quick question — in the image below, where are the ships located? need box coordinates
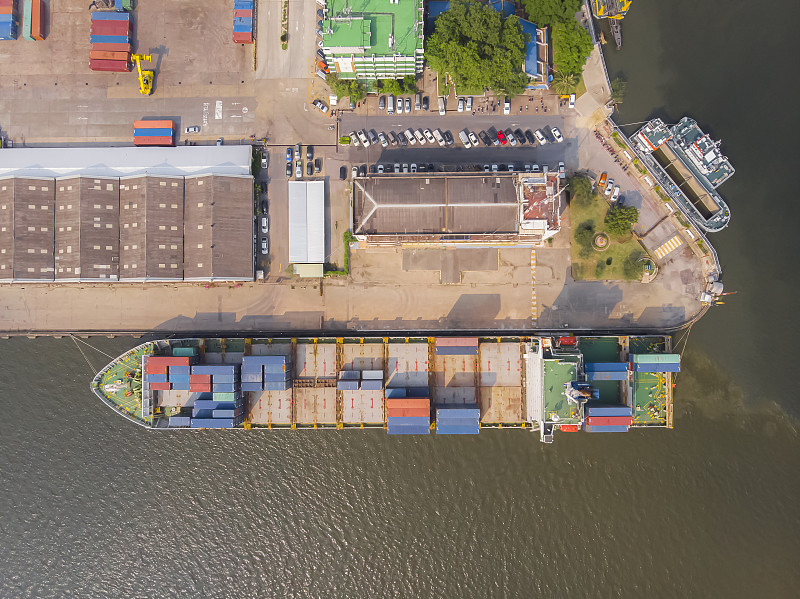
[88,334,677,444]
[627,116,731,231]
[594,0,633,19]
[672,115,736,187]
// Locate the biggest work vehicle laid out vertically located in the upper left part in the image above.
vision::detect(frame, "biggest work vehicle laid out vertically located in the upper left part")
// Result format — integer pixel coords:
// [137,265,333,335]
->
[131,53,157,94]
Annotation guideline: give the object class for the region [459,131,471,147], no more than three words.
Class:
vehicle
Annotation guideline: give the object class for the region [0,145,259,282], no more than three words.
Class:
warehouse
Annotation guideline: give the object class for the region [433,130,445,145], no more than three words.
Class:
vehicle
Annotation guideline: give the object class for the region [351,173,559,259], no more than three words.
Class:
building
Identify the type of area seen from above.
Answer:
port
